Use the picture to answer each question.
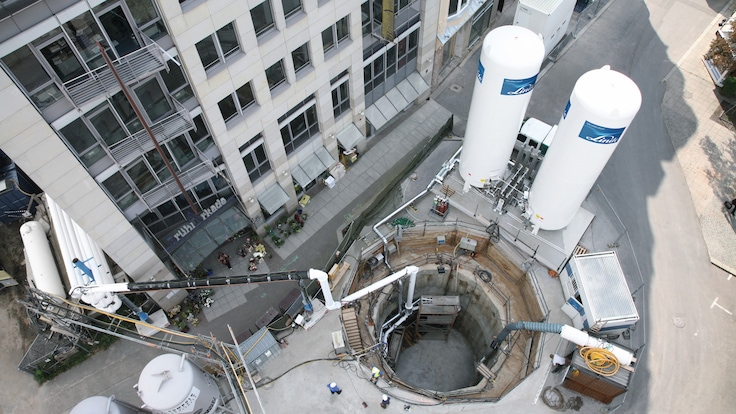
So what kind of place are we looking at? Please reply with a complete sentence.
The picture captures an industrial area.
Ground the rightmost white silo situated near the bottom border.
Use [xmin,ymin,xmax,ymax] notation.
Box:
[134,350,219,414]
